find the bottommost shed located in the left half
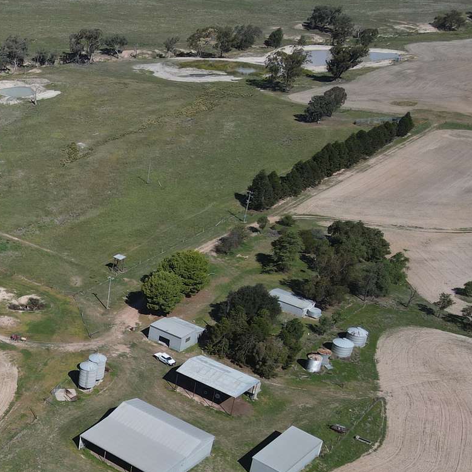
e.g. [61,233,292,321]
[78,397,216,472]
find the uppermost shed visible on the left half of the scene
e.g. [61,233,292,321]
[149,312,206,352]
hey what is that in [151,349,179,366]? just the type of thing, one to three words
vehicle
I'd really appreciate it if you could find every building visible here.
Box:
[175,355,259,413]
[78,397,216,472]
[149,312,206,352]
[266,286,317,317]
[250,423,326,472]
